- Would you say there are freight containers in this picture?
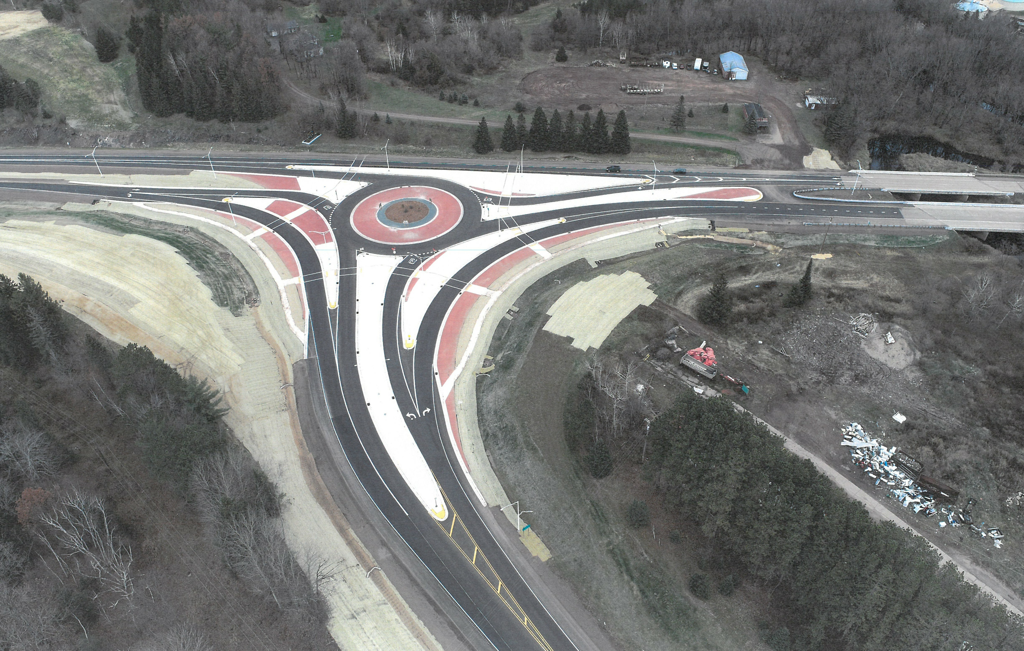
Yes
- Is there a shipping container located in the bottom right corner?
Yes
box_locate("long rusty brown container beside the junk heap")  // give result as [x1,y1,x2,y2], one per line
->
[915,474,959,507]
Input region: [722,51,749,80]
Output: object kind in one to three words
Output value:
shed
